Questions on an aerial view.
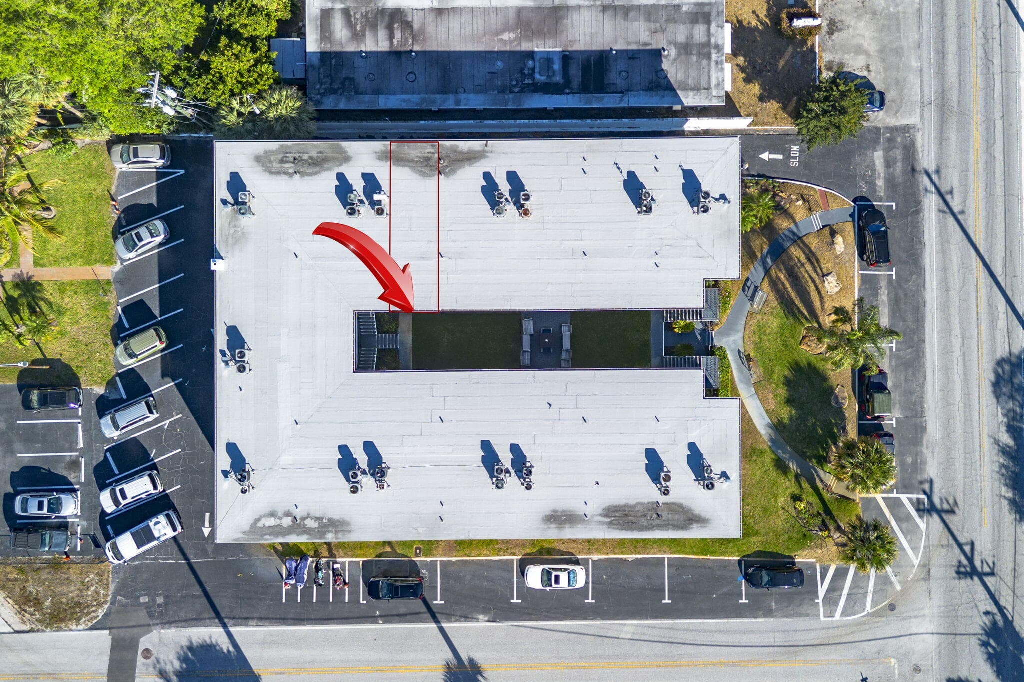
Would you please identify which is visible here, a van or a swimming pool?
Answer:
van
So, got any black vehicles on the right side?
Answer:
Yes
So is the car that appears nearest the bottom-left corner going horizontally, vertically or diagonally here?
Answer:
horizontally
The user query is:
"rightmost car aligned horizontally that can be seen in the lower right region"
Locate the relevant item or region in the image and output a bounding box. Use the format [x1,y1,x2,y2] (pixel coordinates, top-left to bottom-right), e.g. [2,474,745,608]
[744,562,805,591]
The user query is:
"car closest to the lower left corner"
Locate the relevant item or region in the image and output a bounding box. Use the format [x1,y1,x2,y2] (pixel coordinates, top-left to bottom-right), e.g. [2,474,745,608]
[4,526,76,555]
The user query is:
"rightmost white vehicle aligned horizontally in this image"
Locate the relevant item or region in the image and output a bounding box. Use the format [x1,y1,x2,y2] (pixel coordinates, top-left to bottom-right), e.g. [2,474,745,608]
[524,562,587,591]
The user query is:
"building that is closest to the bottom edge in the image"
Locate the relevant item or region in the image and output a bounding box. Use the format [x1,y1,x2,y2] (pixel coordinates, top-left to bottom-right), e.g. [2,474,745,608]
[214,137,742,543]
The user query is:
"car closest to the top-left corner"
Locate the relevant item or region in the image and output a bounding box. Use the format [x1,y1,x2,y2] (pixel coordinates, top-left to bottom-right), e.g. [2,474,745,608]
[110,140,174,170]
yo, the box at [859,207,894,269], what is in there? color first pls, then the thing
black car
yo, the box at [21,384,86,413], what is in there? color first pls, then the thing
black car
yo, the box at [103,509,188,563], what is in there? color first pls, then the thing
white van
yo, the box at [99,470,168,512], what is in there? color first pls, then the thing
white car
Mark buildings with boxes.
[306,0,731,114]
[214,137,742,543]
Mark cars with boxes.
[99,394,164,439]
[115,322,173,364]
[110,140,174,170]
[863,370,895,423]
[368,574,425,603]
[524,562,587,591]
[866,89,888,116]
[744,562,805,591]
[4,526,76,555]
[859,207,894,269]
[871,431,901,491]
[13,490,82,519]
[21,384,86,413]
[114,215,173,260]
[99,470,168,512]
